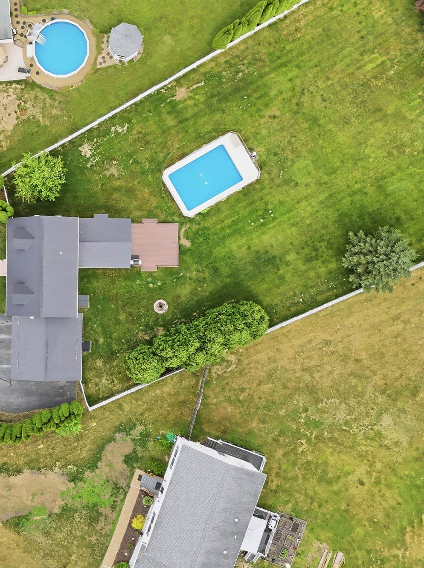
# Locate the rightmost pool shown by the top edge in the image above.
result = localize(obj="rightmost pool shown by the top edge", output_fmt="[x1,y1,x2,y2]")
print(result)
[32,21,90,79]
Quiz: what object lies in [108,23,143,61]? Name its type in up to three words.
gazebo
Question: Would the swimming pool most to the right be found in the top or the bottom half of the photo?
top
